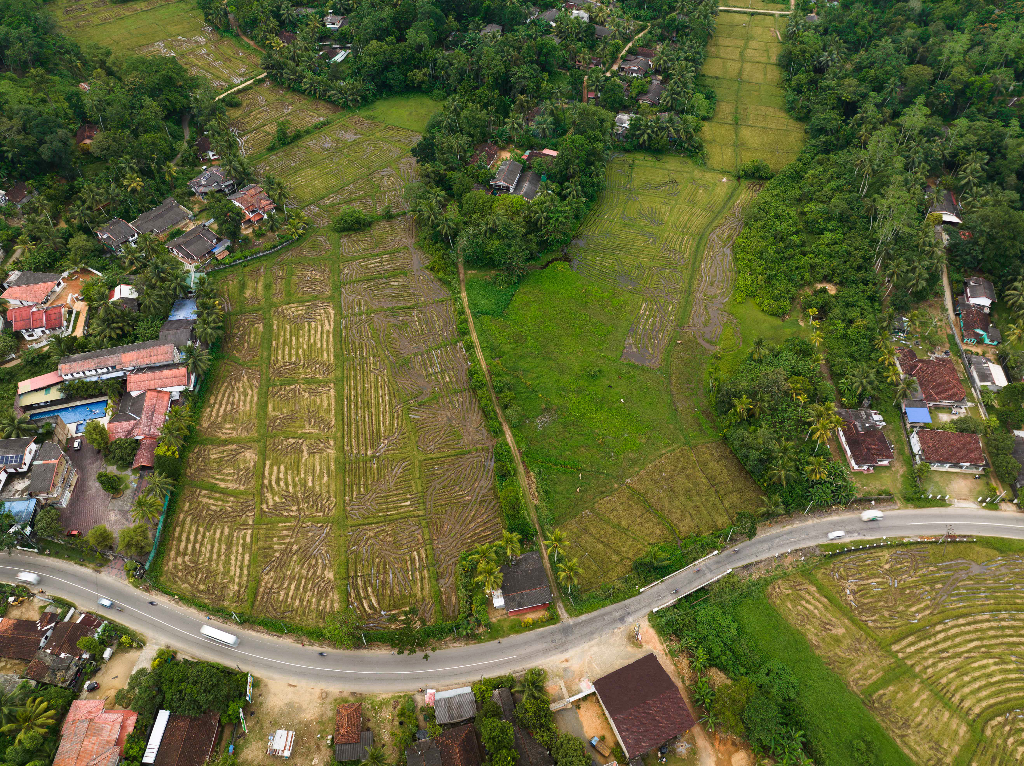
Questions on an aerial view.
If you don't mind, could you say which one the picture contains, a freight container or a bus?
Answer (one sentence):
I can see a bus in this picture.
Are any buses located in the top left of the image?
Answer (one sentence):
No, in the top left of the image there is no bus.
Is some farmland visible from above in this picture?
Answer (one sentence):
Yes, some farmland is visible.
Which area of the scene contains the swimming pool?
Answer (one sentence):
You can find the swimming pool in the left area of the picture.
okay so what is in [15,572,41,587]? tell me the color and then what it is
white vehicle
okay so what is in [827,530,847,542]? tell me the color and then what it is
white vehicle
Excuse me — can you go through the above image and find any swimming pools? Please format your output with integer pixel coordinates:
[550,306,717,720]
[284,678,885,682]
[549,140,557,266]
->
[25,397,112,438]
